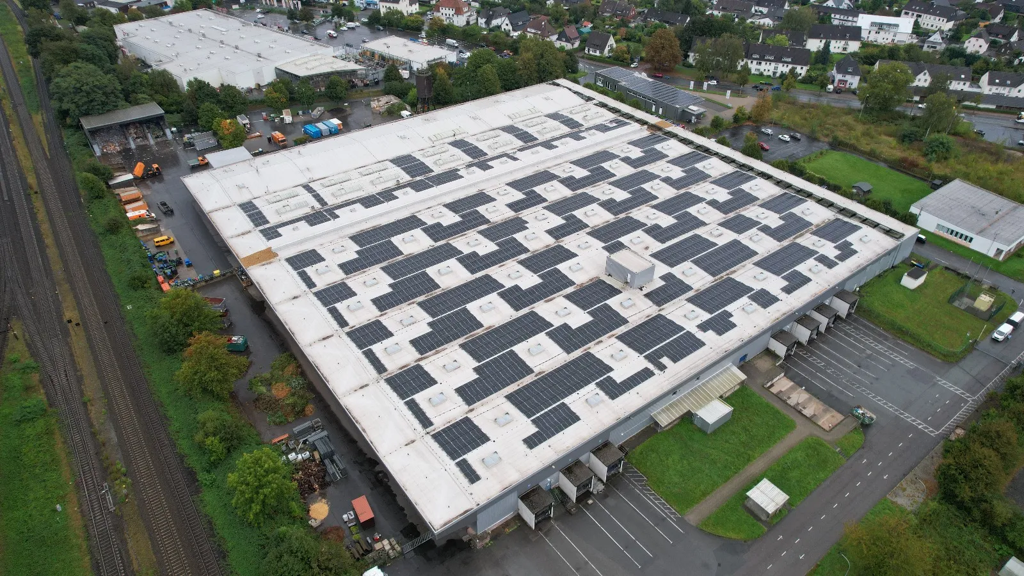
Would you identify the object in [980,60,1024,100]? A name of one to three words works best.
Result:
house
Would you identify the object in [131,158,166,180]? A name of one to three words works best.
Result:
truck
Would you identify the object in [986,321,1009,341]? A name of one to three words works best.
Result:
vehicle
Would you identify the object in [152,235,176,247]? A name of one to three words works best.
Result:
vehicle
